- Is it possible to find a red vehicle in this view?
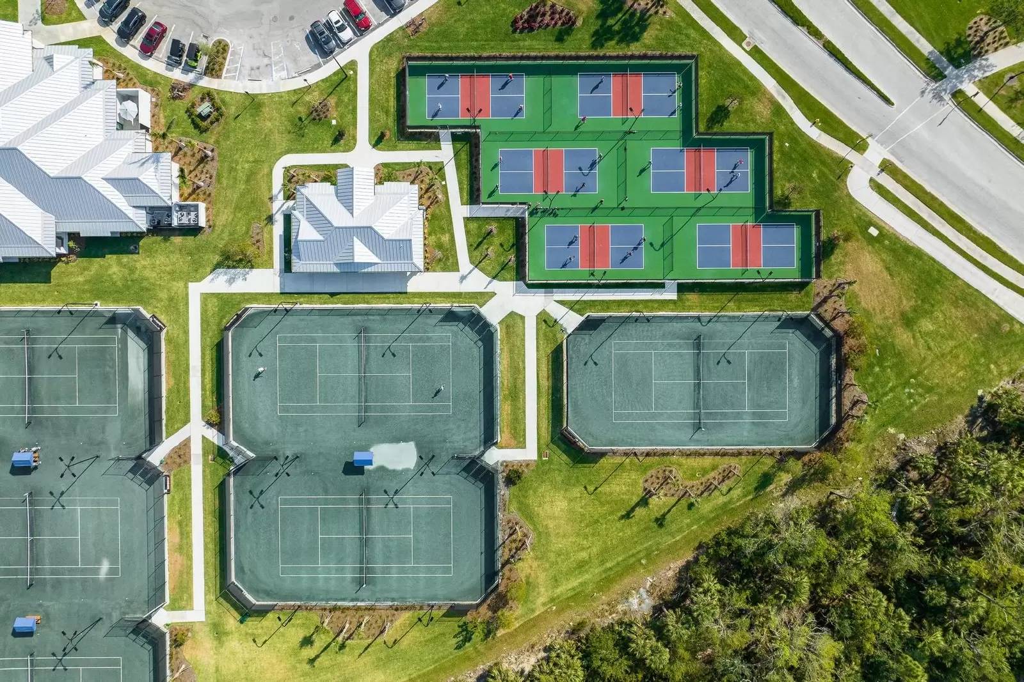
Yes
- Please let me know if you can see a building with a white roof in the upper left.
Yes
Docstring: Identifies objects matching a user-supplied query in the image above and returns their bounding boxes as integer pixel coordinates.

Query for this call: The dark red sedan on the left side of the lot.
[138,19,167,57]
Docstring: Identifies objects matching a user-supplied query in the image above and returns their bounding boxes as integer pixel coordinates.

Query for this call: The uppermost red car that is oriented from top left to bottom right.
[341,0,371,31]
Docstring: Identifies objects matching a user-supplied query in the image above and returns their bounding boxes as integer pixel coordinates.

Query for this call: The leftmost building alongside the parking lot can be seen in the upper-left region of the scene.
[0,19,205,257]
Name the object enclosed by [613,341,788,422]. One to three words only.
tennis court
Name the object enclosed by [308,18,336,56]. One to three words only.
car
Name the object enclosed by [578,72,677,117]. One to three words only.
sports court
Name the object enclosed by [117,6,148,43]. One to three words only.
car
